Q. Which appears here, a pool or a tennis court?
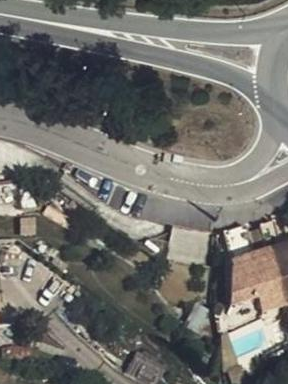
pool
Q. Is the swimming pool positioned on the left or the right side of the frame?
right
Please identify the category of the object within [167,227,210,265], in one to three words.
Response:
building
